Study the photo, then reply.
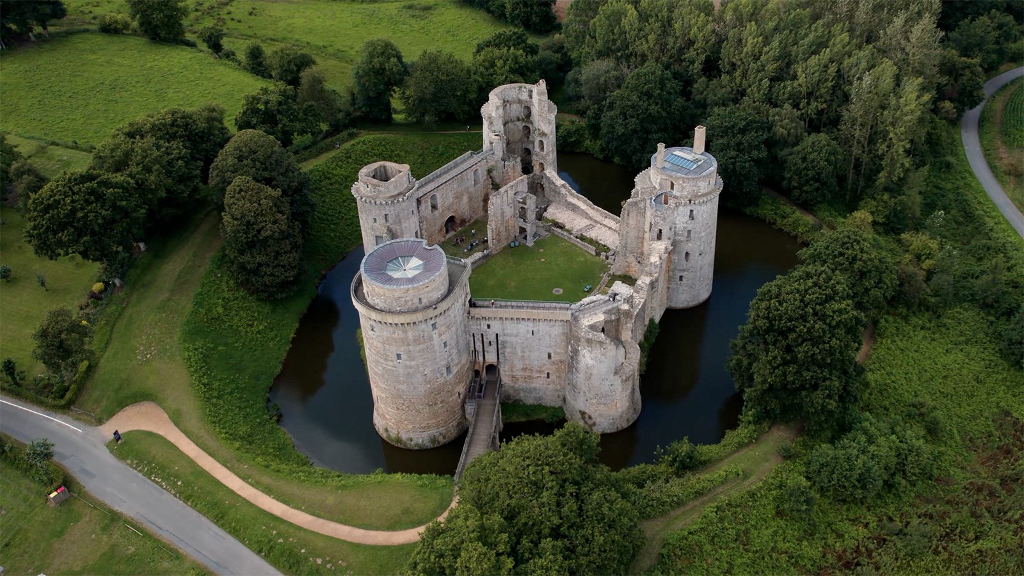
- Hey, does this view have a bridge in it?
Yes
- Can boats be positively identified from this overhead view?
No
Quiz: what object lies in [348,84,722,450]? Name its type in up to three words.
building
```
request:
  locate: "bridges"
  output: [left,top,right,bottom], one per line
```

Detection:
[454,371,502,485]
